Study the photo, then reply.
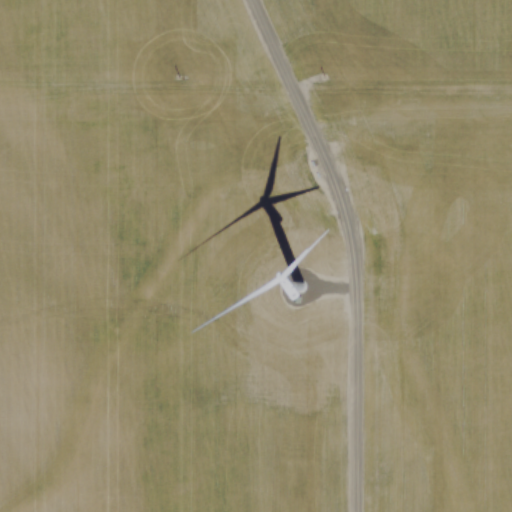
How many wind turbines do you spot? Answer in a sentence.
There is 1 wind turbine in the image.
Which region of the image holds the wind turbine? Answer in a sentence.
The wind turbine sits in the center section of the image.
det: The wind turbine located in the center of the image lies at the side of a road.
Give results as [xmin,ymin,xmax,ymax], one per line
[194,232,329,332]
